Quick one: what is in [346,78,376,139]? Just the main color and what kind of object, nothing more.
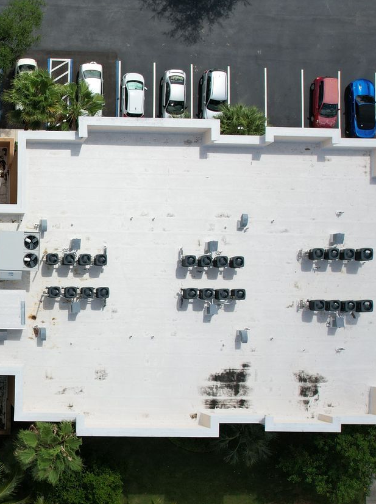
blue car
